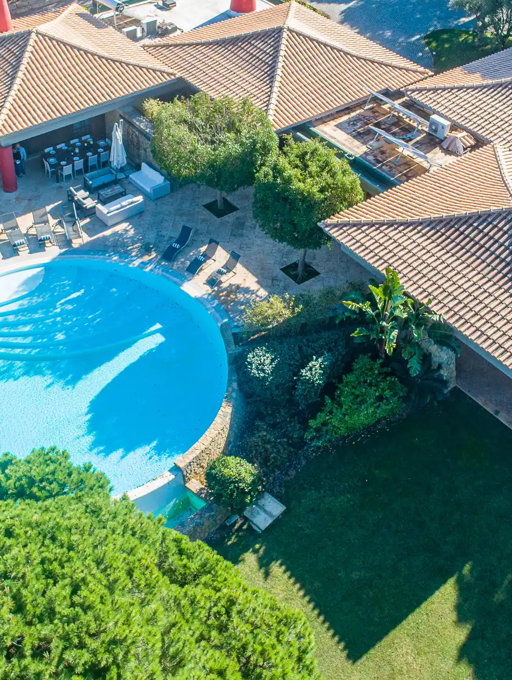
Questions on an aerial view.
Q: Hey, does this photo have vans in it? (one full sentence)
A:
No, there isn't any van down there.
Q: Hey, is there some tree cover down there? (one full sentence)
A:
Yes, there is tree cover in the image.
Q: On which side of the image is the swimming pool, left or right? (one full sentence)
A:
It is on the left.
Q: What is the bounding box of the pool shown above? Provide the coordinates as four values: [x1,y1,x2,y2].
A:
[0,253,240,578]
